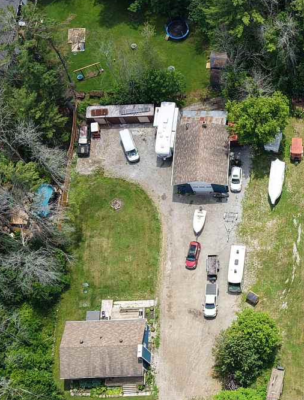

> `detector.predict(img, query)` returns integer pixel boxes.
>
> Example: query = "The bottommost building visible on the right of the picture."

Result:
[173,126,229,193]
